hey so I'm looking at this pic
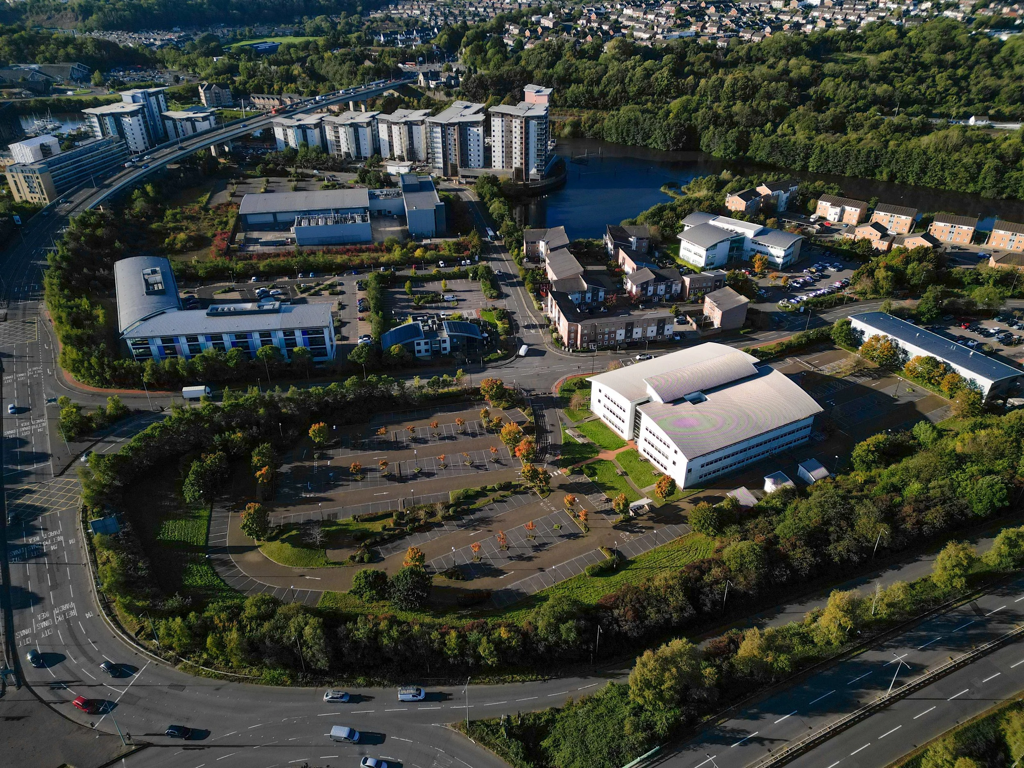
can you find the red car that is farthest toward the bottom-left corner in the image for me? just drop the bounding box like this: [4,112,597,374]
[70,696,98,715]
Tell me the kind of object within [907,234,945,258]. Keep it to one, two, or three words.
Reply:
house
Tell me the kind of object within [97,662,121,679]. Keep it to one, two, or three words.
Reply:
car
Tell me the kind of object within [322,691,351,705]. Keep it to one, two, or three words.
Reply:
car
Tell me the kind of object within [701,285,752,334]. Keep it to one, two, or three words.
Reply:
building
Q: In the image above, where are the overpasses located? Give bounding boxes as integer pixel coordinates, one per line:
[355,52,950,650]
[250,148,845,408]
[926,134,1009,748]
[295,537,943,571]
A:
[15,78,414,236]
